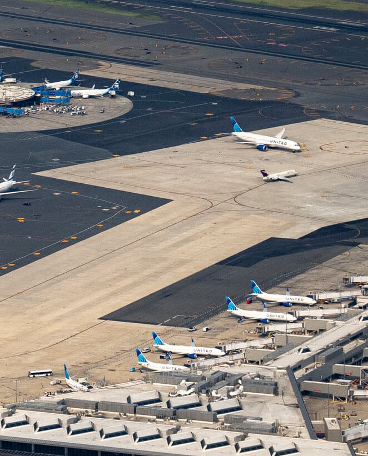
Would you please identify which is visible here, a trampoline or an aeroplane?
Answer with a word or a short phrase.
aeroplane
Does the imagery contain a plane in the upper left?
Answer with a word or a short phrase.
Yes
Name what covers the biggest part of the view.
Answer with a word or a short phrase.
paved ground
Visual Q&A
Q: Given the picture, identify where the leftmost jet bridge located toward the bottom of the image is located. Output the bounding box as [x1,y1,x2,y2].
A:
[193,353,248,367]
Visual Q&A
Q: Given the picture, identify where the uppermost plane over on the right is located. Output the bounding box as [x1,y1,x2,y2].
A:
[220,120,301,153]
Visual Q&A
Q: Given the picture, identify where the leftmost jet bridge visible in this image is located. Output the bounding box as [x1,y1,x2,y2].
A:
[0,105,27,118]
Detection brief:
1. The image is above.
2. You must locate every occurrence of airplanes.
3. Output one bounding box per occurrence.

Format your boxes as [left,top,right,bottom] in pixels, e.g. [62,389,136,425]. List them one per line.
[228,297,296,323]
[258,170,300,181]
[0,168,38,200]
[42,68,87,89]
[220,120,301,153]
[74,78,119,97]
[249,281,318,307]
[131,348,197,375]
[0,65,10,85]
[155,333,226,357]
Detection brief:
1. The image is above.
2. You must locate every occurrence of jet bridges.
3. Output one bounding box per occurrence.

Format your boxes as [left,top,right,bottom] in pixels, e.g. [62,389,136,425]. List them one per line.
[341,418,368,443]
[31,82,52,90]
[341,427,368,443]
[193,353,248,367]
[347,387,368,403]
[311,288,364,305]
[259,320,305,337]
[33,93,74,106]
[219,339,278,354]
[292,306,348,319]
[0,105,27,118]
[342,274,368,287]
